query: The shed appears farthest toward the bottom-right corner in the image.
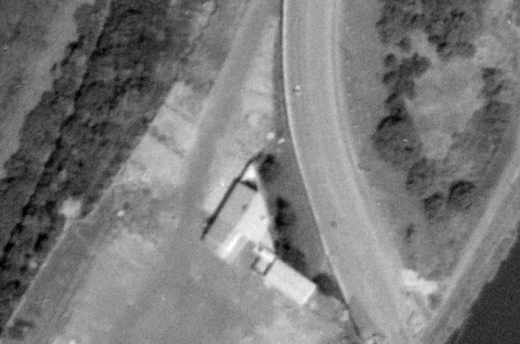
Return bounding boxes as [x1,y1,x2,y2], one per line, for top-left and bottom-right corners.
[264,258,315,304]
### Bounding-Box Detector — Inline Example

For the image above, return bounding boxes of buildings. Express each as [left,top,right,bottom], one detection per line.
[264,258,315,304]
[203,182,268,263]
